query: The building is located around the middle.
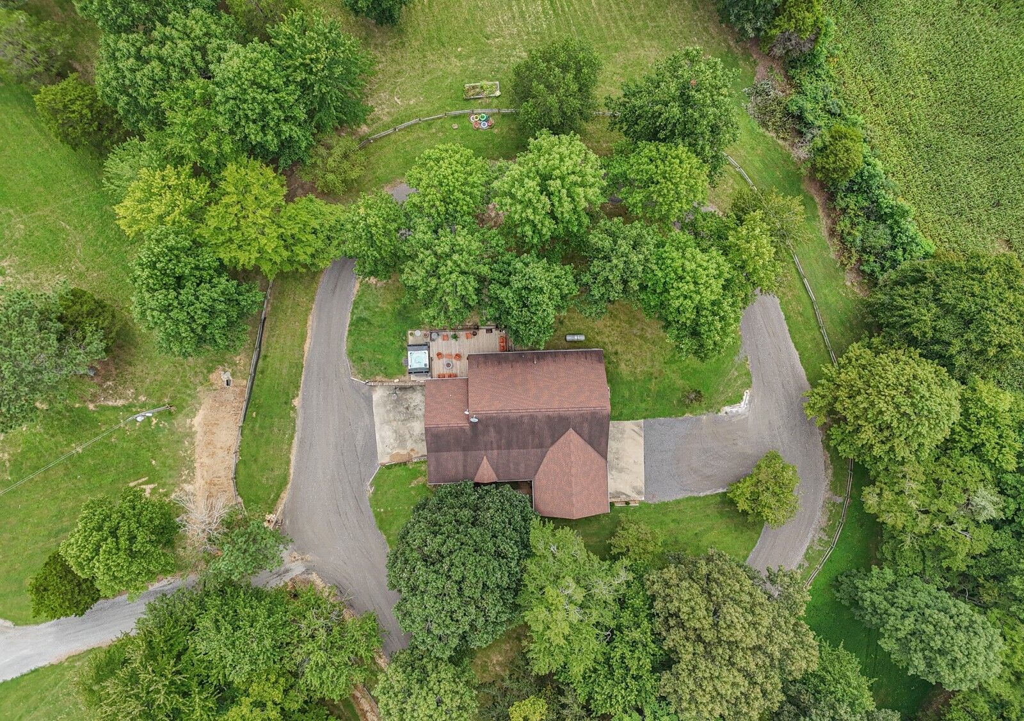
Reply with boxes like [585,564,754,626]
[423,348,611,519]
